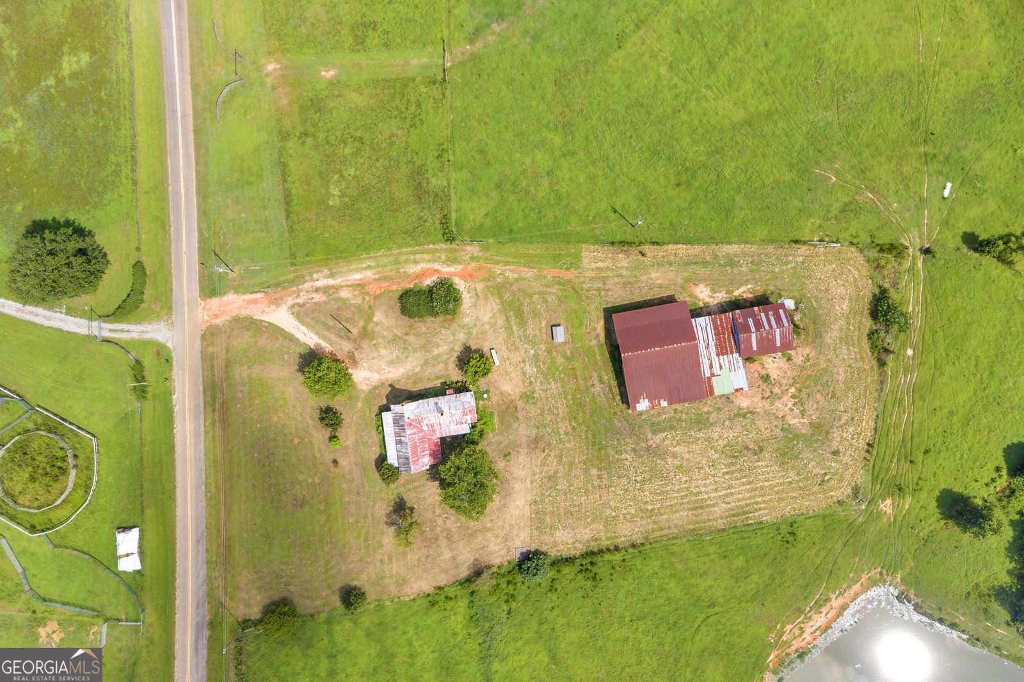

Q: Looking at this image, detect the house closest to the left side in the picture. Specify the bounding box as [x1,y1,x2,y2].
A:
[382,389,477,473]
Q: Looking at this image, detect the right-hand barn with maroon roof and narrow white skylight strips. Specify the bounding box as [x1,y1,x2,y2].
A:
[729,303,793,358]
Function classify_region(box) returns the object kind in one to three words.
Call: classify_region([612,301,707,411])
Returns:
barn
